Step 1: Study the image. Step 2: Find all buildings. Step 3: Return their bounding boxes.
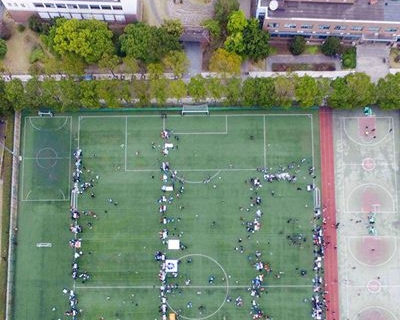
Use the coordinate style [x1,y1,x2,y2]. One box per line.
[0,0,139,23]
[248,0,400,40]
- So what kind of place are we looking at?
sports ground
